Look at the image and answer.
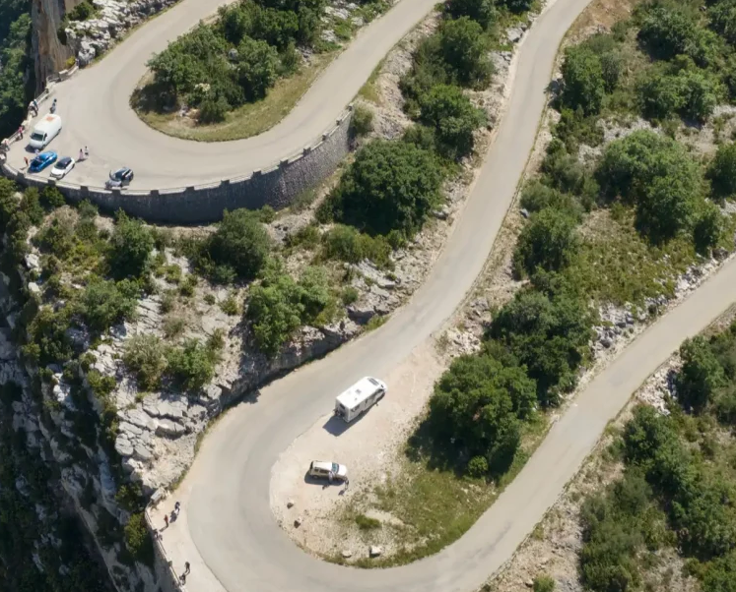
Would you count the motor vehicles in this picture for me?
6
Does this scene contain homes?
No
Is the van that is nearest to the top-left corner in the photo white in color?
Yes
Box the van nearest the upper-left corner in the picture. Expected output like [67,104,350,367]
[31,109,64,147]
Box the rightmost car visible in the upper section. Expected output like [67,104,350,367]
[103,160,134,185]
